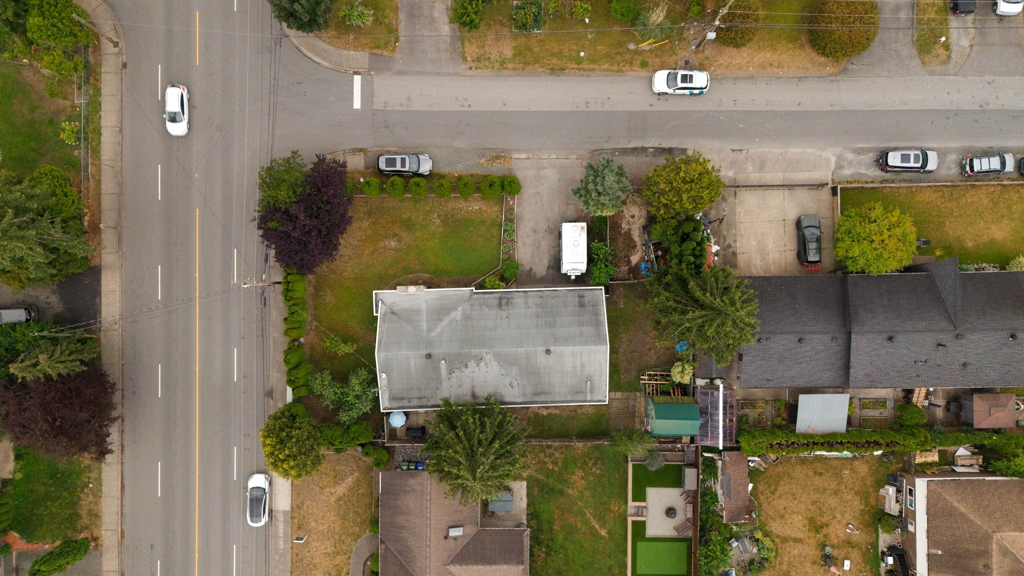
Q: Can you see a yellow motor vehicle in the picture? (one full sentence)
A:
No, there's no yellow motor vehicle here.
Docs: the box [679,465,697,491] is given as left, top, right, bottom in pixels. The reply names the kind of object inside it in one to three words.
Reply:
shed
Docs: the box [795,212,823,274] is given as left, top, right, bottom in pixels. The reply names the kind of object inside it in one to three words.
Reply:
car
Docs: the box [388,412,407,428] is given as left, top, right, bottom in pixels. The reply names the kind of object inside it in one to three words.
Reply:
umbrella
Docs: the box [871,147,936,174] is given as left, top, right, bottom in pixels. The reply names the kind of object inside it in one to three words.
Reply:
car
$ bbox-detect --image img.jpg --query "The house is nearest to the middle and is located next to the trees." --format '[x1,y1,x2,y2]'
[372,285,611,413]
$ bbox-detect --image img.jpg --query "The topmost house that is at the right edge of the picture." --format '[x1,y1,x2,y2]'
[737,257,1024,389]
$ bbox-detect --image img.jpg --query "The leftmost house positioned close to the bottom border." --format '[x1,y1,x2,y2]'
[378,469,530,576]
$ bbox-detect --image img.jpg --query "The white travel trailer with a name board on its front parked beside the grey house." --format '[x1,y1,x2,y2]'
[555,220,588,287]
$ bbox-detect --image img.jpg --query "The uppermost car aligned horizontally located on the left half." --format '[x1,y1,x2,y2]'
[376,150,433,177]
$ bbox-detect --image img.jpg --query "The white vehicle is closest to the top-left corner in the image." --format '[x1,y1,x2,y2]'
[163,84,191,137]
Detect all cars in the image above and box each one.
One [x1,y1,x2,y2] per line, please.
[795,212,823,274]
[651,69,709,97]
[948,0,980,15]
[163,84,191,137]
[990,0,1019,16]
[245,470,273,528]
[958,152,1014,178]
[0,302,39,327]
[871,147,936,174]
[376,150,433,177]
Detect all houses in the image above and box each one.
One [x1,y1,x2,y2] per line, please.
[372,285,611,413]
[737,257,1024,389]
[378,469,530,576]
[890,472,1024,576]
